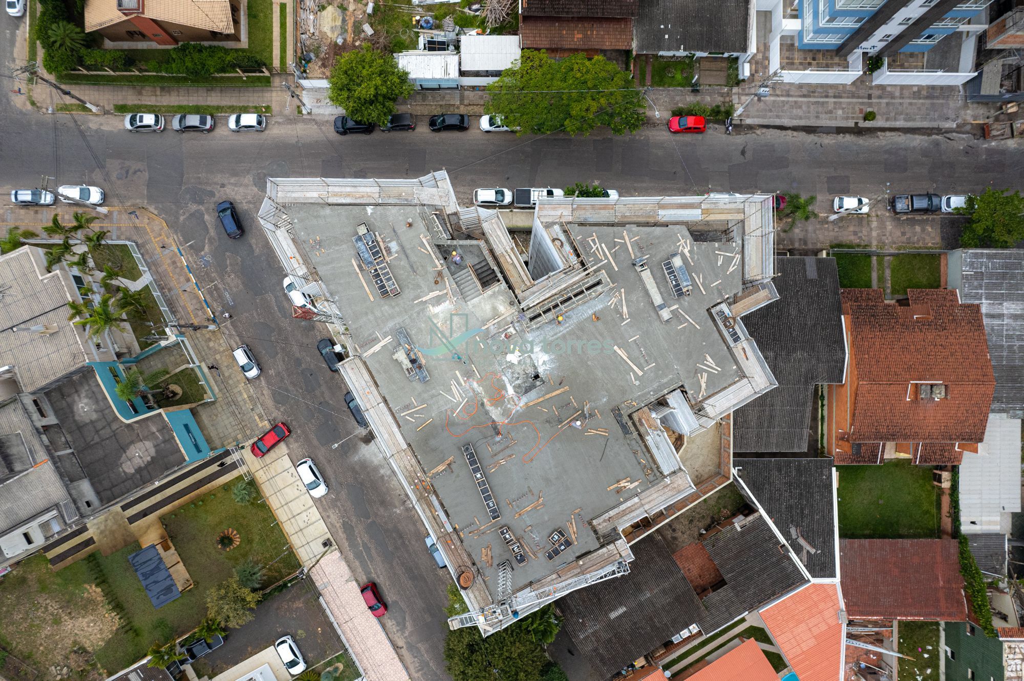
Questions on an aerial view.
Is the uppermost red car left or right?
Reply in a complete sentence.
The uppermost red car appears in the right half of the scene.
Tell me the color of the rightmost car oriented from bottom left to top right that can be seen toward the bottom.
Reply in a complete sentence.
The color of the rightmost car oriented from bottom left to top right that can be seen toward the bottom is red.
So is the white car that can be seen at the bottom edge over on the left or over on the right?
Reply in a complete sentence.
The white car that can be seen at the bottom edge appears in the left half of the scene.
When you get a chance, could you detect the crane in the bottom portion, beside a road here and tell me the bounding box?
[445,557,631,632]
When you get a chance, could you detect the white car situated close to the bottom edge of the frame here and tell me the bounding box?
[274,632,307,676]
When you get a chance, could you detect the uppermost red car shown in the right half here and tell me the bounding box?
[667,113,706,135]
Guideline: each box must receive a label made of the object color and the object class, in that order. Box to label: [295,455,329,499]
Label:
white car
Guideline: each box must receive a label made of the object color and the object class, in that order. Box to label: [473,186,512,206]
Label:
white car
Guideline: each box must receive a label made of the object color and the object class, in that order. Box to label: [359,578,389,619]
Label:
red car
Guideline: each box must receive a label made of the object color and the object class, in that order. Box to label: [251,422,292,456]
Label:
red car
